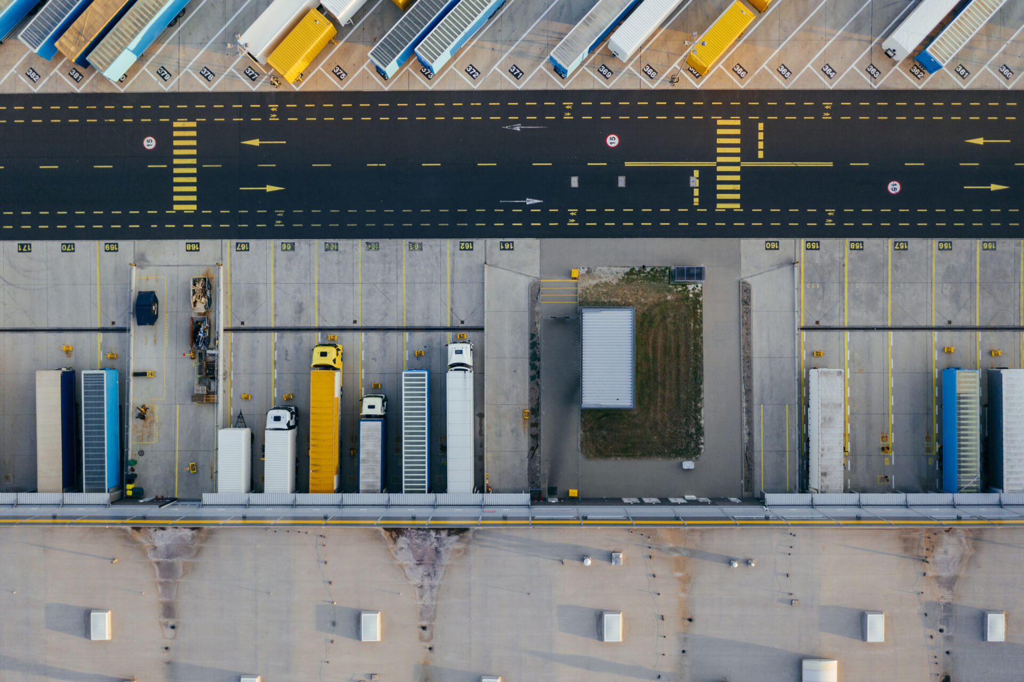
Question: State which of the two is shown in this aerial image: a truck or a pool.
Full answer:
Looking from above, you can make out a truck.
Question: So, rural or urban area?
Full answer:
From above, the setting appears urban.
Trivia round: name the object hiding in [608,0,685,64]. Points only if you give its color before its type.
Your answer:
white trailer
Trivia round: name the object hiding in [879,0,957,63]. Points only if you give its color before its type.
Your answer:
white trailer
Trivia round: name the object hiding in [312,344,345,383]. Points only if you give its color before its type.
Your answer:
yellow truck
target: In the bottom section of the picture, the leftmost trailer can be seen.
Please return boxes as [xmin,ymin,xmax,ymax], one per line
[36,367,81,494]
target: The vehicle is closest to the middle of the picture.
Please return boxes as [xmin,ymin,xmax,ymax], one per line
[445,341,475,371]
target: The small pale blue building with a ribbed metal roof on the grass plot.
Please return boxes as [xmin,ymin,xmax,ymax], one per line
[579,307,635,409]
